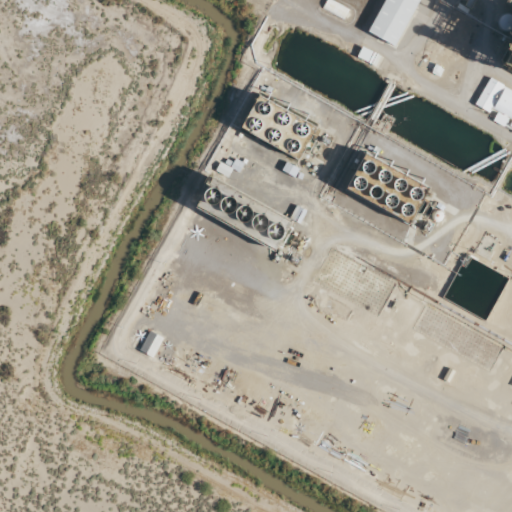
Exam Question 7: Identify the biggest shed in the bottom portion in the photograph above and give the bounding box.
[139,330,164,358]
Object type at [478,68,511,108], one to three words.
building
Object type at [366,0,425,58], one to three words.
building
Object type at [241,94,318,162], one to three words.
cooling tower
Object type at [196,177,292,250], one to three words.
cooling tower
